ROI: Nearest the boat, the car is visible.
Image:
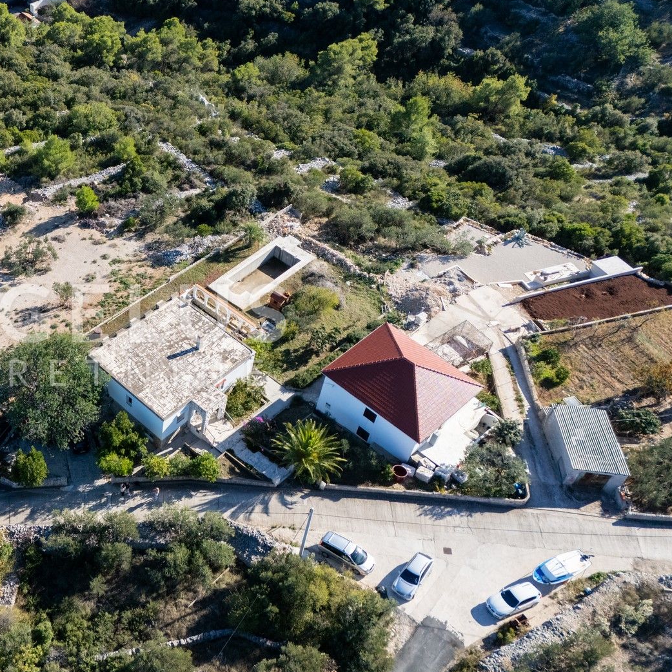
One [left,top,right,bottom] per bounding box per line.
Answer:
[485,580,545,618]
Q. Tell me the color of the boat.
white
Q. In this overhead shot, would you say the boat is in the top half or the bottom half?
bottom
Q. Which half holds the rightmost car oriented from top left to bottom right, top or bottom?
bottom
